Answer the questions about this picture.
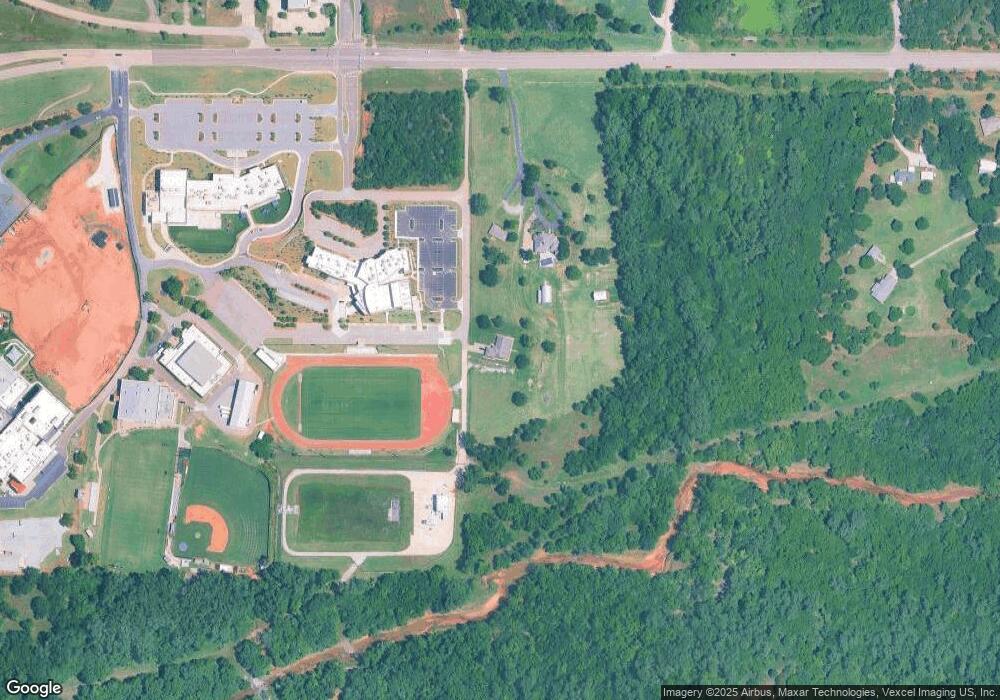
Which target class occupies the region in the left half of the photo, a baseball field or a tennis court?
baseball field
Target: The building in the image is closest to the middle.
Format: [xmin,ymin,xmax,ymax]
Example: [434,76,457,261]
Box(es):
[487,336,514,359]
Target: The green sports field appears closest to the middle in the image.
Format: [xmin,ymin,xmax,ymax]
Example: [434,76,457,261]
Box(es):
[301,367,421,440]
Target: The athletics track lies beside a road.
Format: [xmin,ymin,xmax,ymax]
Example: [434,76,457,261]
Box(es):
[271,356,453,448]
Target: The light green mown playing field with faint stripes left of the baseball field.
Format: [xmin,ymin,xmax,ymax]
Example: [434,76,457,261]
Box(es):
[101,428,179,571]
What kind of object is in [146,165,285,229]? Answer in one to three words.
building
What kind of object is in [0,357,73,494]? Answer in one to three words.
building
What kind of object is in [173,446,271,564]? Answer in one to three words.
baseball field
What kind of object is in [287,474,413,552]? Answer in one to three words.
sports field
